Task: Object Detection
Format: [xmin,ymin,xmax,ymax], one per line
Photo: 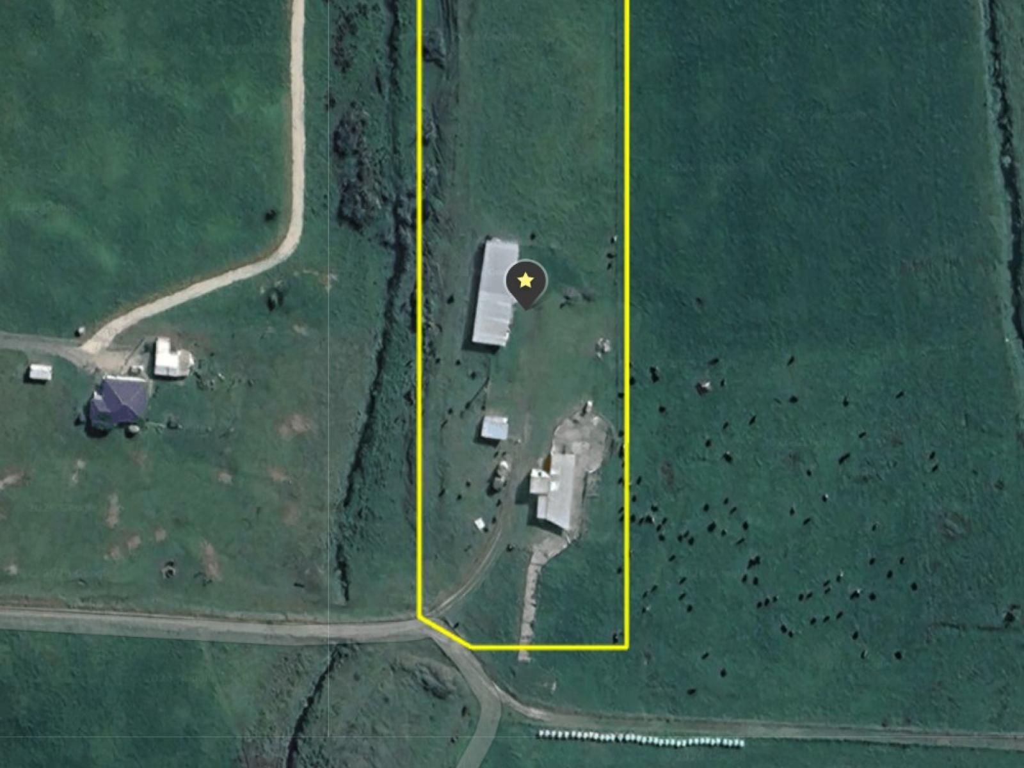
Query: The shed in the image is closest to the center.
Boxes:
[481,416,508,440]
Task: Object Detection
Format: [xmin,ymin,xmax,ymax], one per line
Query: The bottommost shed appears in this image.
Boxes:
[530,454,576,530]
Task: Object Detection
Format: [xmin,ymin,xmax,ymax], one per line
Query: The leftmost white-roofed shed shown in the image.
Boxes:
[28,364,51,380]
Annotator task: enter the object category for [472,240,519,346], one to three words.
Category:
shed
